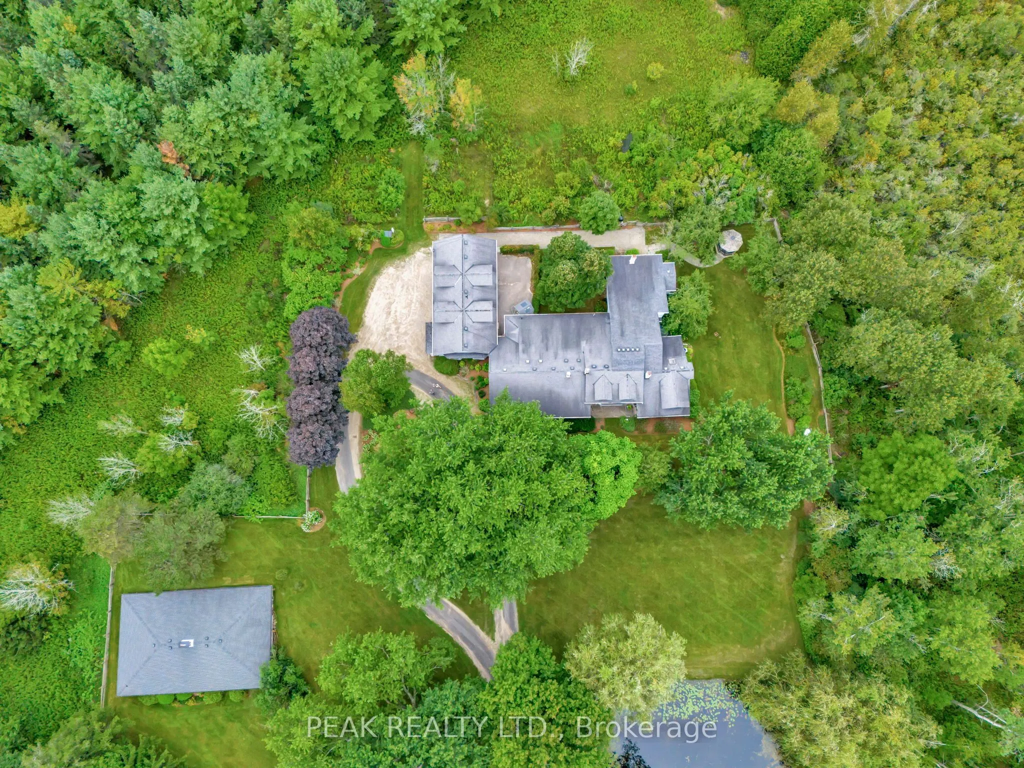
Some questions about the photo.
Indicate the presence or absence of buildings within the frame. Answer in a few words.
Yes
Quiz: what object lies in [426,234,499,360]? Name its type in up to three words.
building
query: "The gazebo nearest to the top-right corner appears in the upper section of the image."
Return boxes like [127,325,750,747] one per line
[713,233,745,264]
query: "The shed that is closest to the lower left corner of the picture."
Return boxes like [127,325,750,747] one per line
[116,585,277,697]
